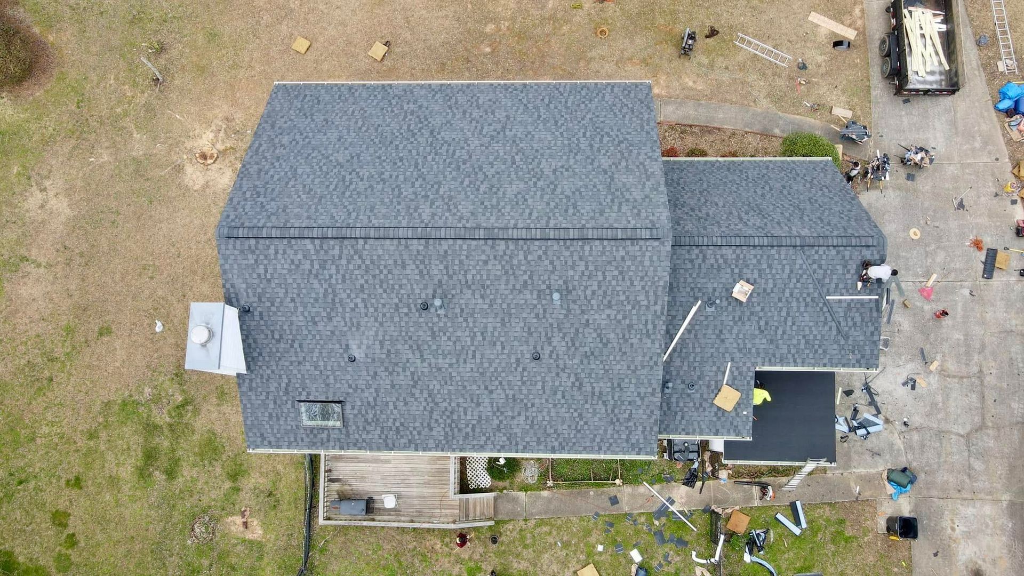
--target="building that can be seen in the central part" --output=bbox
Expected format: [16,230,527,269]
[184,80,883,467]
